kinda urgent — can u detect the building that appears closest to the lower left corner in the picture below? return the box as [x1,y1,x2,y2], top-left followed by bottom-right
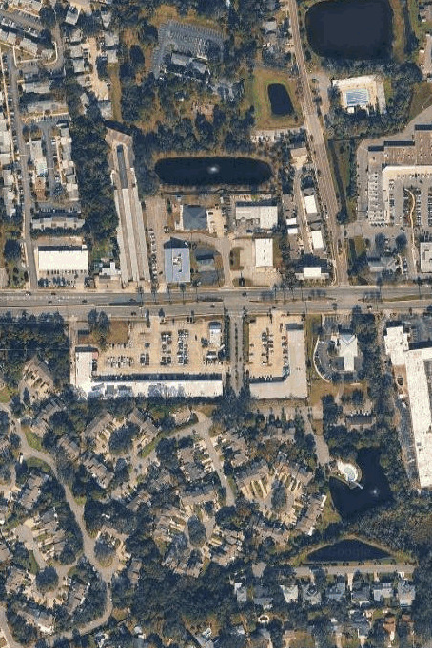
[16,609,57,634]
